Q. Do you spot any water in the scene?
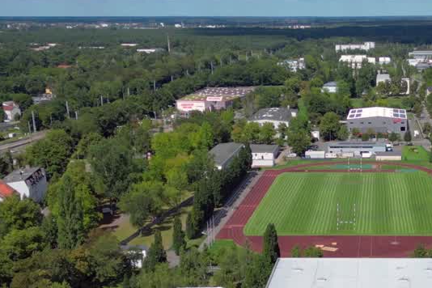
No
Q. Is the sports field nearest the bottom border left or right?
right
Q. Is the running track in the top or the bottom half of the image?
bottom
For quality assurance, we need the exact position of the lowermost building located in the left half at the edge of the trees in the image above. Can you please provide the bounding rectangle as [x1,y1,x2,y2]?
[117,245,151,267]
